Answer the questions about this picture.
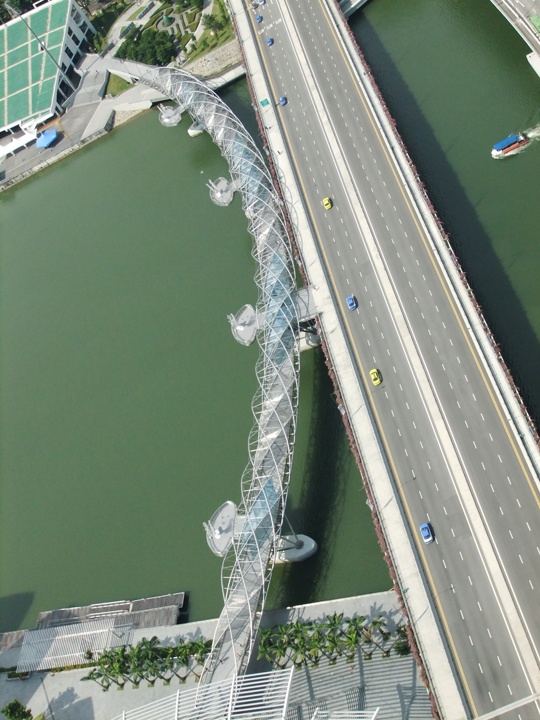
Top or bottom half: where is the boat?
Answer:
top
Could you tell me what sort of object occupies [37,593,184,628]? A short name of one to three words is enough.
pier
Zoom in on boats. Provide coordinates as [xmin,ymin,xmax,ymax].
[491,133,530,155]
